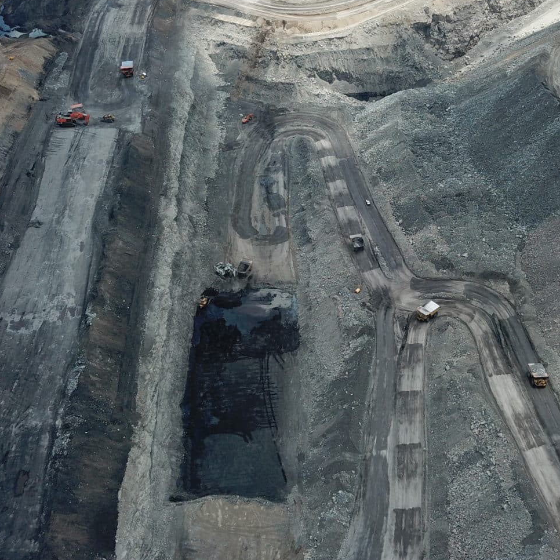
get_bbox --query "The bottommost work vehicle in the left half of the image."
[198,292,213,308]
